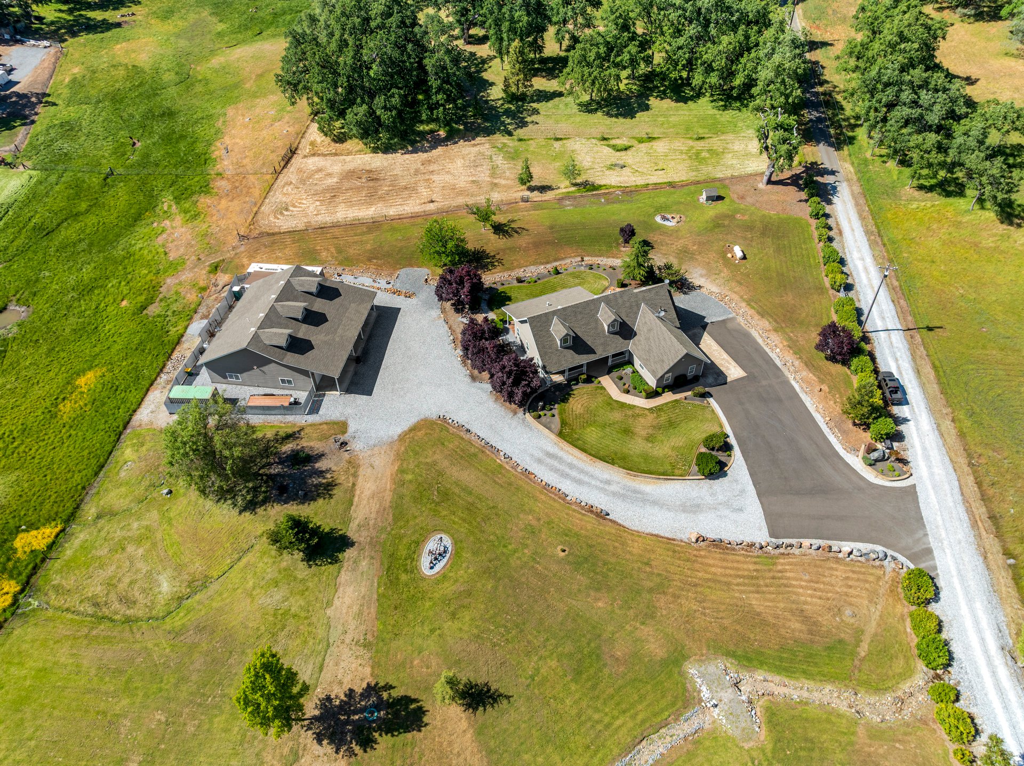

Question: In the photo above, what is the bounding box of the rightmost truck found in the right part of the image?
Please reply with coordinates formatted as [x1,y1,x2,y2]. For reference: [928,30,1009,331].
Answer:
[883,373,910,408]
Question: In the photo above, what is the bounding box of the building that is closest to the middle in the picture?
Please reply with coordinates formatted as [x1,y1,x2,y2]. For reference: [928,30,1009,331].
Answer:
[502,276,711,388]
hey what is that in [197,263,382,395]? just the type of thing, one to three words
building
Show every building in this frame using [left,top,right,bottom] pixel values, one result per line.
[700,186,718,201]
[502,276,711,388]
[197,263,382,395]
